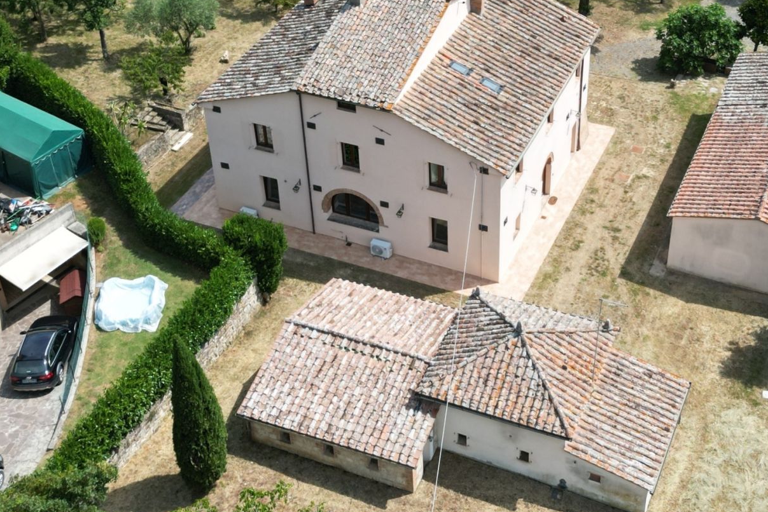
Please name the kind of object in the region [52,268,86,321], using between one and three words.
shed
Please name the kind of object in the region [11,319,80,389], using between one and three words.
car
